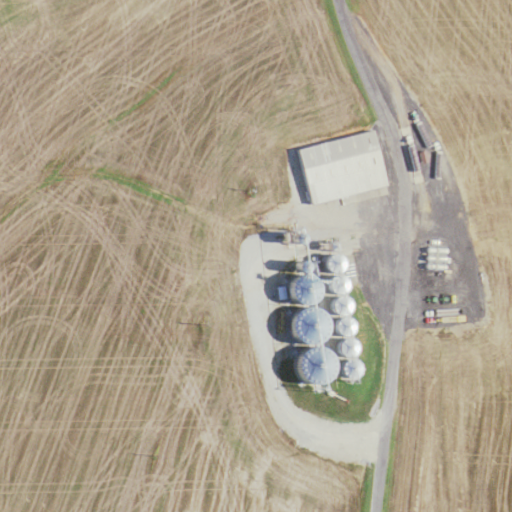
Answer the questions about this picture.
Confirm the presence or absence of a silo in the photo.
Yes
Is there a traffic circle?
No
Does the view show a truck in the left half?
No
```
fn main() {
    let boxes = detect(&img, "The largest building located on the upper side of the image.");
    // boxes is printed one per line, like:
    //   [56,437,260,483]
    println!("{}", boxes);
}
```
[297,131,386,205]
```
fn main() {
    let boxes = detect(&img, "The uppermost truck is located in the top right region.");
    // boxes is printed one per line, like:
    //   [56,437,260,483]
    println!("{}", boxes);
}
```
[410,110,434,150]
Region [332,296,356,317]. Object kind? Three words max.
silo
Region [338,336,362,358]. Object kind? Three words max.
silo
